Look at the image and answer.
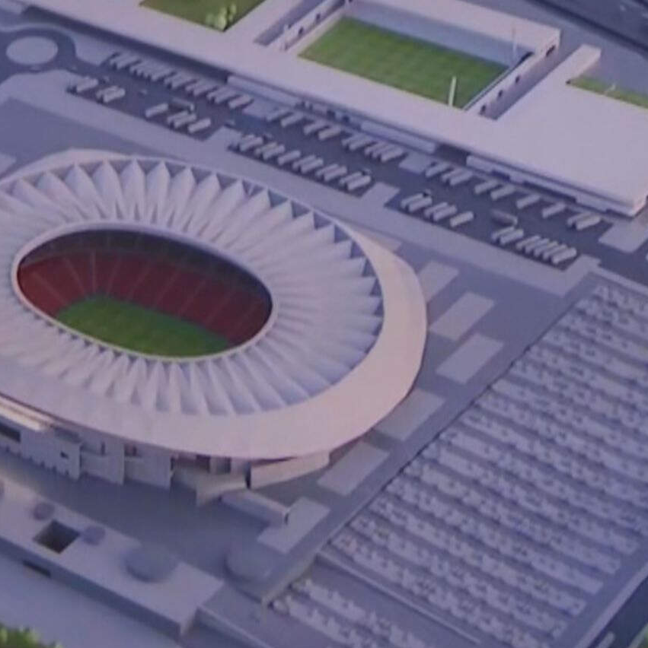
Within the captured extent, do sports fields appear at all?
Yes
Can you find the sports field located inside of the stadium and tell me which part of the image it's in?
left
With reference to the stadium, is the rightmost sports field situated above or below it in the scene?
above it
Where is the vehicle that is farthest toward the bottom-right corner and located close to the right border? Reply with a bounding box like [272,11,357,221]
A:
[592,629,618,648]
